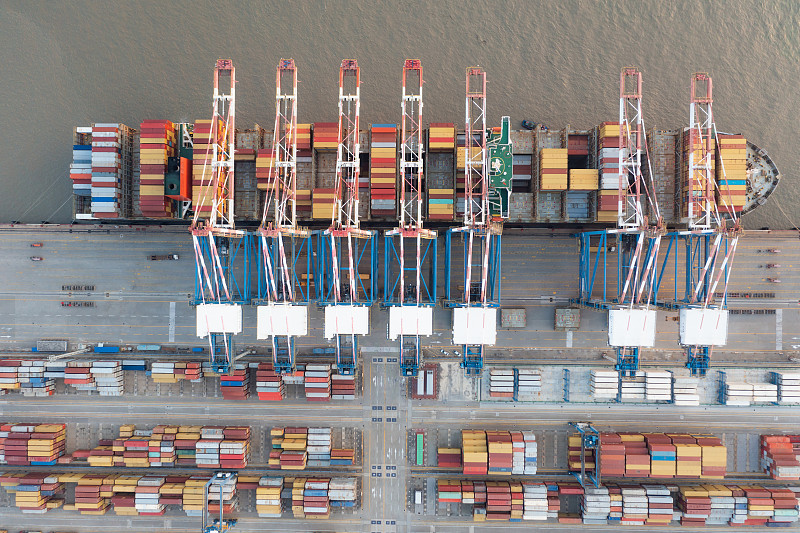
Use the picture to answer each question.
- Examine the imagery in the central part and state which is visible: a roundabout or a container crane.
container crane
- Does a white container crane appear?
Yes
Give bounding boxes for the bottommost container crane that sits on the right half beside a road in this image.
[563,421,602,490]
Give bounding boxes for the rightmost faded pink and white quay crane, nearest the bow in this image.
[641,66,743,389]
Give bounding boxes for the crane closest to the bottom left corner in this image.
[202,471,241,533]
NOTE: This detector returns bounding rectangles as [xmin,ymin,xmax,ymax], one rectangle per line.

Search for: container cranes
[202,471,241,533]
[572,66,666,388]
[641,66,743,389]
[315,59,385,381]
[563,421,602,490]
[438,66,505,386]
[188,59,273,380]
[377,59,443,382]
[252,59,331,381]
